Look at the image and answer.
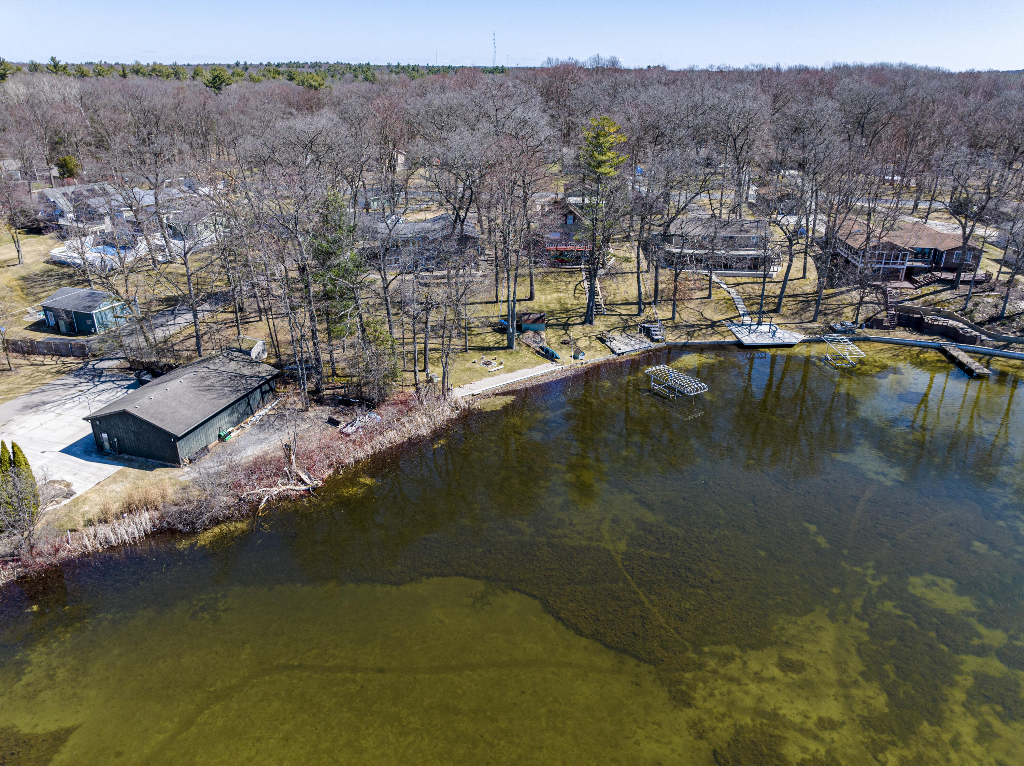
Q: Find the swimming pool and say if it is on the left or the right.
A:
left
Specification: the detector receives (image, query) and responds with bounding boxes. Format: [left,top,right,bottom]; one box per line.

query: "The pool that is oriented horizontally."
[34,239,150,269]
